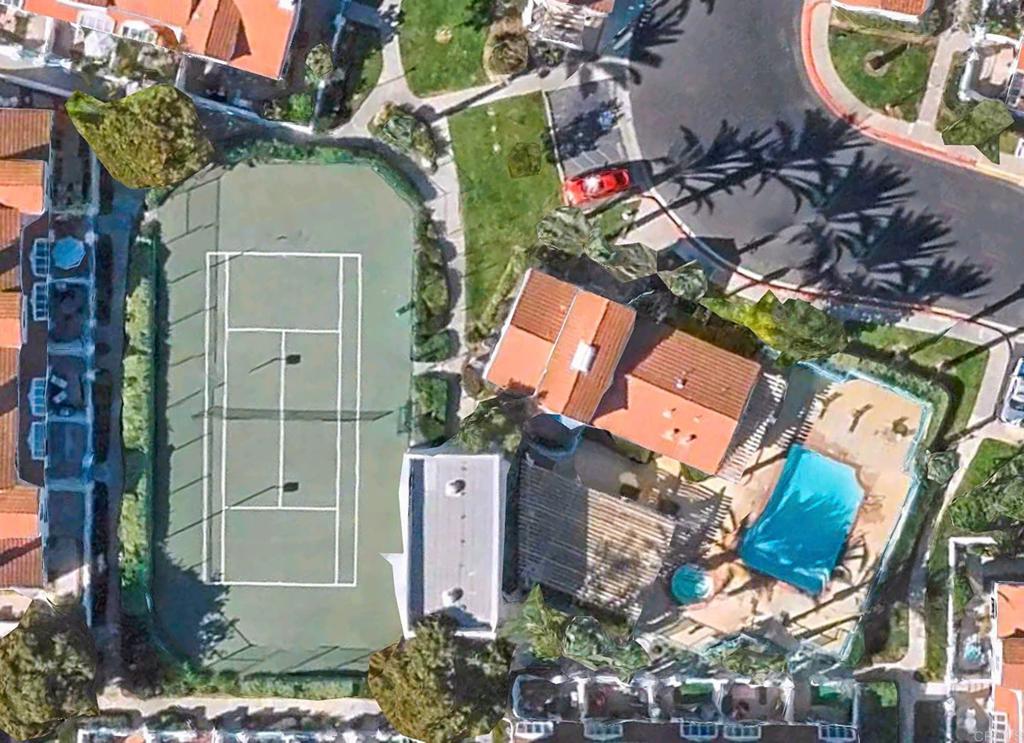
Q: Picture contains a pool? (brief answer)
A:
Yes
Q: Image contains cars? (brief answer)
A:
Yes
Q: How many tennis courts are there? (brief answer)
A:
one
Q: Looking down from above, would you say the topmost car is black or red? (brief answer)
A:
red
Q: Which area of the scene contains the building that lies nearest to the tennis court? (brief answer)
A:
bottom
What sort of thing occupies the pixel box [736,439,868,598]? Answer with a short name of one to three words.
swimming pool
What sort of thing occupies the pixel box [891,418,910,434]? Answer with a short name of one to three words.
umbrella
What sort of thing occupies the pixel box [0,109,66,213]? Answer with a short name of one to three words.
house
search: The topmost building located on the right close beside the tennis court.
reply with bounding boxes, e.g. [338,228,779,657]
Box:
[484,268,762,475]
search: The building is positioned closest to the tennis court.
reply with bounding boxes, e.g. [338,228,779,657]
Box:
[399,453,497,634]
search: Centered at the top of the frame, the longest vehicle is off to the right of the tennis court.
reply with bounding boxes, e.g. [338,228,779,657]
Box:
[563,166,634,204]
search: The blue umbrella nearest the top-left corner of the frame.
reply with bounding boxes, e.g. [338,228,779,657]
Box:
[54,237,86,269]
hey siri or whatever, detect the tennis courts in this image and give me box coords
[154,161,414,673]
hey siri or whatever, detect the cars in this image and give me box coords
[1002,356,1024,424]
[563,166,634,204]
